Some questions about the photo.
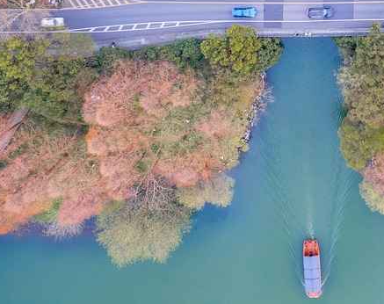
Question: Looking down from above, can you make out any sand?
No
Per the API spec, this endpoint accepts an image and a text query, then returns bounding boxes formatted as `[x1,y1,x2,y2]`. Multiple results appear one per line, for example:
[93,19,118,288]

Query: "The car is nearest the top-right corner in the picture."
[307,8,334,20]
